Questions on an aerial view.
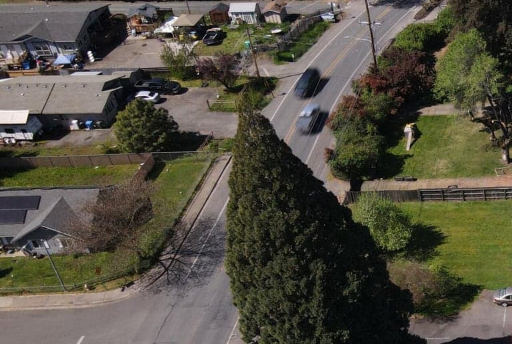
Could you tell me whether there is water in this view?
No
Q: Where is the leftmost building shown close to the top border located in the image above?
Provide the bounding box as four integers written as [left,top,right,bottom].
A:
[0,9,133,64]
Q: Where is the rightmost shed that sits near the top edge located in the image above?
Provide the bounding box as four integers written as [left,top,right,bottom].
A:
[258,0,289,24]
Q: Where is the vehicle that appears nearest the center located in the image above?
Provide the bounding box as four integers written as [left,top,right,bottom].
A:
[297,103,324,126]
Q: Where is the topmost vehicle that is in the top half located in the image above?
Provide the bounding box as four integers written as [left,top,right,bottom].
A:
[196,28,226,46]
